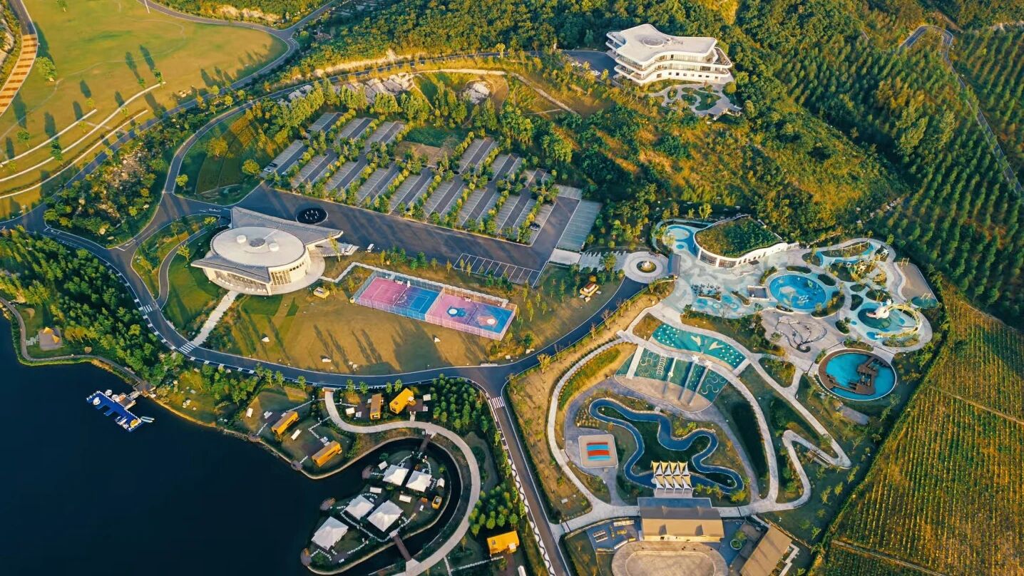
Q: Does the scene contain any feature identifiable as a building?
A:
Yes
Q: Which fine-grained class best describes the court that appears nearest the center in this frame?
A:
tennis court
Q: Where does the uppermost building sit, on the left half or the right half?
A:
right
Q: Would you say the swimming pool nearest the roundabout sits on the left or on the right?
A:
right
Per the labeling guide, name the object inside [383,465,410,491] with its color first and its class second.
white tent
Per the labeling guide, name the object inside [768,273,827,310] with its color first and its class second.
blue swimming pool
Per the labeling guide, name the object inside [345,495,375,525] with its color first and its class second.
white tent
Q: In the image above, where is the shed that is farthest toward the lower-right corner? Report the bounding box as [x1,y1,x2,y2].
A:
[738,526,791,576]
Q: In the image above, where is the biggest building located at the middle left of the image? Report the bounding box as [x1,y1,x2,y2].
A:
[191,206,359,297]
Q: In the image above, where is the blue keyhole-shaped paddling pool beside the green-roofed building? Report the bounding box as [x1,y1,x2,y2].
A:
[664,223,698,258]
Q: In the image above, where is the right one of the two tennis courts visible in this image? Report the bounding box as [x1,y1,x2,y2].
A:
[424,292,515,340]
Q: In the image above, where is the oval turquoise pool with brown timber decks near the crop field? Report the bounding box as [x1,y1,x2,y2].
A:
[818,347,898,401]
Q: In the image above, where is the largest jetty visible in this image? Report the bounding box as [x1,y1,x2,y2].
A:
[87,391,142,433]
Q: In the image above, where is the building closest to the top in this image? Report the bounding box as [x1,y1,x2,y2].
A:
[605,24,732,85]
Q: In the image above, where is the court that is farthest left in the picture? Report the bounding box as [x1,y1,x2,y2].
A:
[355,277,440,320]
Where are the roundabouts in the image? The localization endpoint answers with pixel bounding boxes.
[623,252,670,283]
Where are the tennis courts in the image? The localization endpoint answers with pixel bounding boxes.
[355,277,440,320]
[424,292,515,340]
